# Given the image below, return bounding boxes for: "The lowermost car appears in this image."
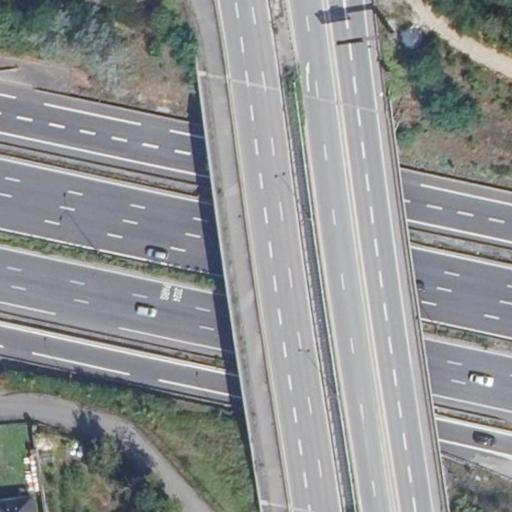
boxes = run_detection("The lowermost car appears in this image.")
[472,432,496,445]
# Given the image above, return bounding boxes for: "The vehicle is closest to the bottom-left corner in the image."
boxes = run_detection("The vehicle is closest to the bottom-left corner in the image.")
[136,304,158,317]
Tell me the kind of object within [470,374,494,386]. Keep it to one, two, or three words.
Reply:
vehicle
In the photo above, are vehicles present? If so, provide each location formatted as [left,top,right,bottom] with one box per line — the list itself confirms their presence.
[416,280,424,290]
[472,432,496,445]
[147,248,168,260]
[136,304,158,317]
[470,374,494,386]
